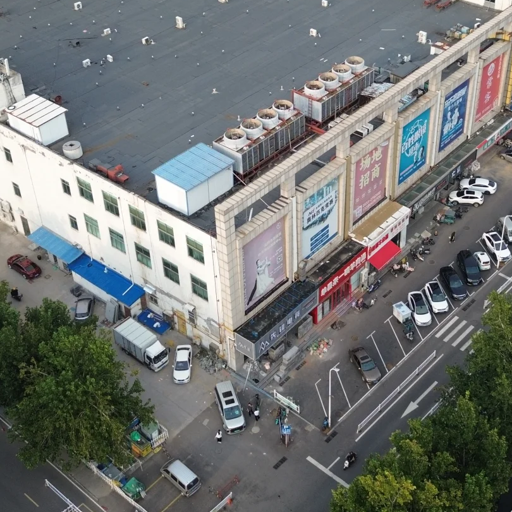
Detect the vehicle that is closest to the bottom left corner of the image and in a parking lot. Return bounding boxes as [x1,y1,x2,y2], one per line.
[159,453,205,498]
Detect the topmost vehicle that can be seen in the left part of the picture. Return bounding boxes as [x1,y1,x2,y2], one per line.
[7,255,41,280]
